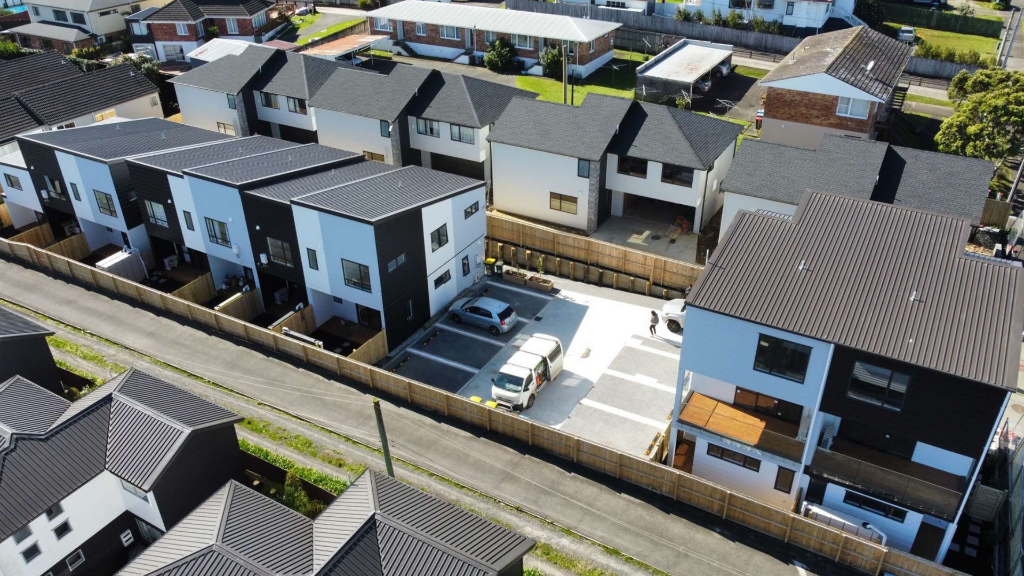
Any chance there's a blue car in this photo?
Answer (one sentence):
Yes, there's a blue car here.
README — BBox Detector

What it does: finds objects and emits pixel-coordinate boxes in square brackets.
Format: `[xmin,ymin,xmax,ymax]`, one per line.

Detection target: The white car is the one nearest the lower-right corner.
[661,299,691,333]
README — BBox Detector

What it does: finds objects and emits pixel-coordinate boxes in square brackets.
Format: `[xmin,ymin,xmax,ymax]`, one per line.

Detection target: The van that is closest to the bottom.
[493,333,564,411]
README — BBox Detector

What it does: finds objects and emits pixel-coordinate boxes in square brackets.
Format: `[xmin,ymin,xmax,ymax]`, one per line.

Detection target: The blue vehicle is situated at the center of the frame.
[447,296,520,337]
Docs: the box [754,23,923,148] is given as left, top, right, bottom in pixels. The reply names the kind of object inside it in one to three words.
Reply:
house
